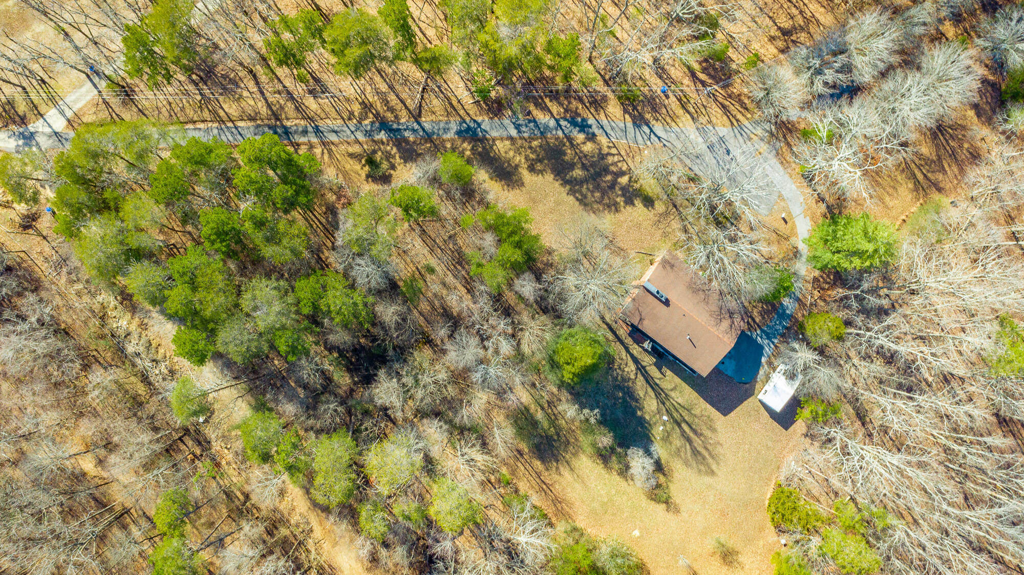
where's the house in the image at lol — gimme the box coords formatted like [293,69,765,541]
[618,250,751,377]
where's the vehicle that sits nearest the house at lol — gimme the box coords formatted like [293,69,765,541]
[754,363,801,412]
